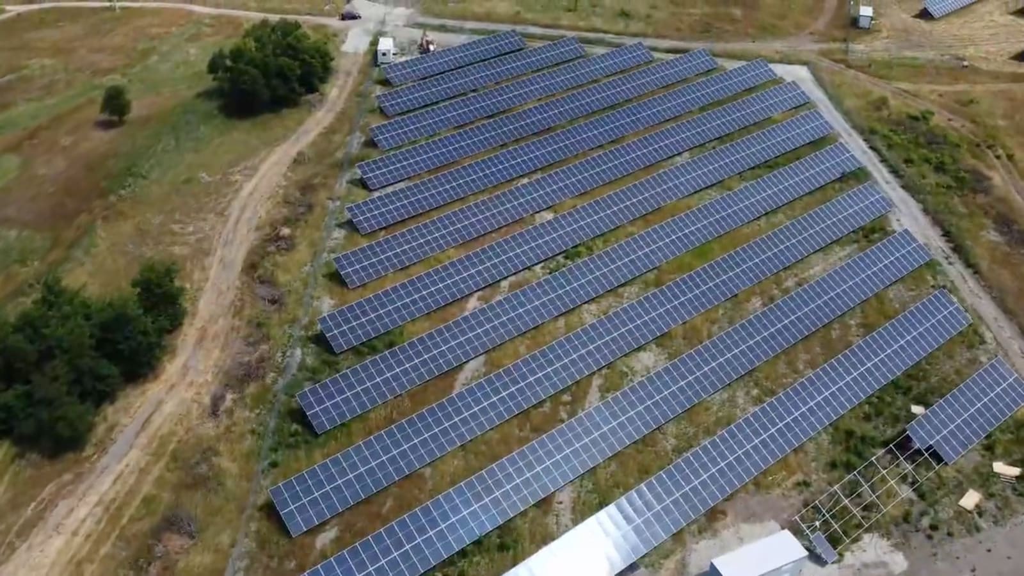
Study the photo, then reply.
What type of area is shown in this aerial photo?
solar farm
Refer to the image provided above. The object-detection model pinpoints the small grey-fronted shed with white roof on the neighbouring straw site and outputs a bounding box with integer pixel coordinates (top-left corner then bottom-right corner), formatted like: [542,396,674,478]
[858,4,874,27]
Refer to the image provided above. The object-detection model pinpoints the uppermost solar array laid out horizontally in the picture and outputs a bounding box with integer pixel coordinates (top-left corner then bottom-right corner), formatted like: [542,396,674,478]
[921,0,981,21]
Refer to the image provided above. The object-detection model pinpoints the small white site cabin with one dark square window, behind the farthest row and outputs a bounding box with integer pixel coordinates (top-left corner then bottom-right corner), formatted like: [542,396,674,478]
[377,36,398,62]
